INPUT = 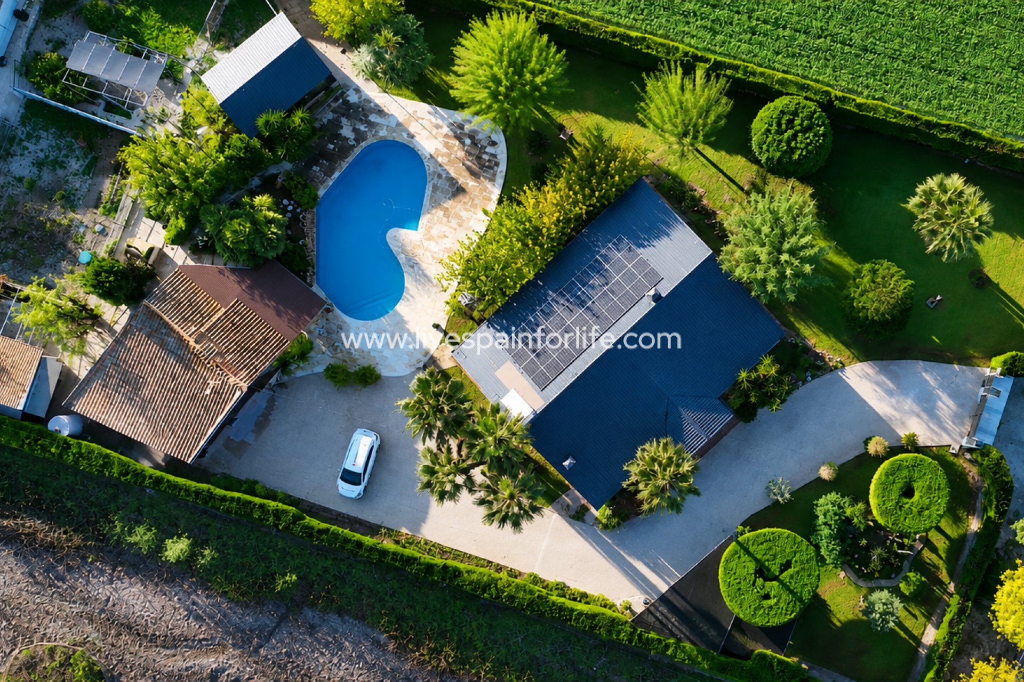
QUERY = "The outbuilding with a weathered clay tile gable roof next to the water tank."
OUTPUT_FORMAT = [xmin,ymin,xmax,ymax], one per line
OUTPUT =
[61,259,332,464]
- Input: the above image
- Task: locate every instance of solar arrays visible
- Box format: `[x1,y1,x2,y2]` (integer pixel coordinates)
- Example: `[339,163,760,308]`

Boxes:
[504,236,662,394]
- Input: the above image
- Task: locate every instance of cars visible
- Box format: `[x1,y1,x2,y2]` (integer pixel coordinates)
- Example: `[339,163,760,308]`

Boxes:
[334,430,380,501]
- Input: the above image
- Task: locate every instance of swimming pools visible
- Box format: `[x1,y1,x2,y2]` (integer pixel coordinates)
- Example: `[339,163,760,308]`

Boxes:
[311,135,432,325]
